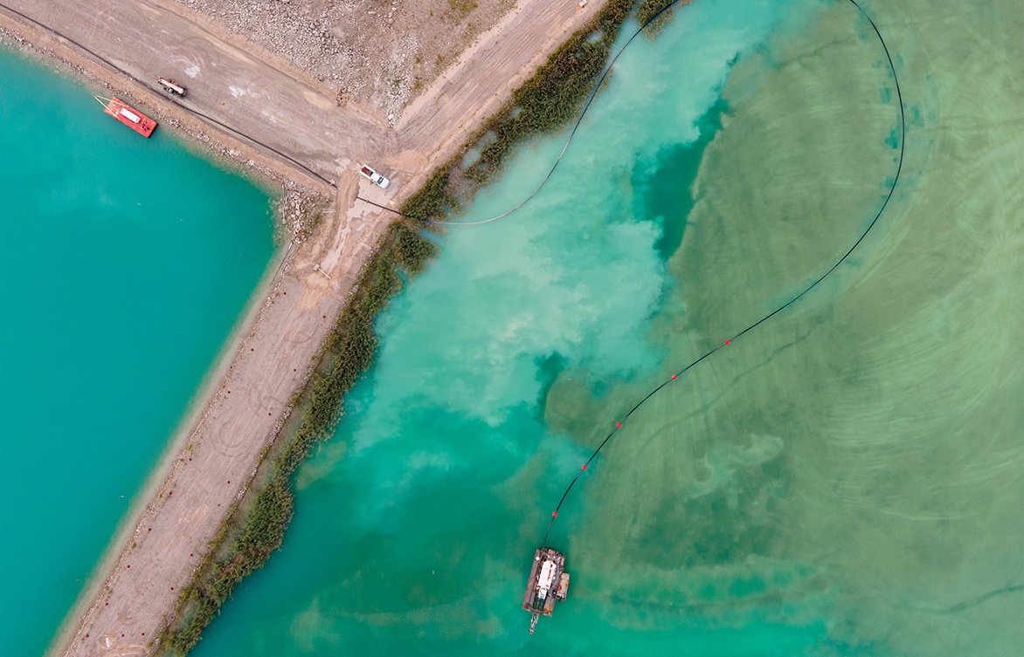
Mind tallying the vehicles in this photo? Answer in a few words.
two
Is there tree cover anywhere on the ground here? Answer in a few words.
No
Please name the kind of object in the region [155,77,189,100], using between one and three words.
work vehicle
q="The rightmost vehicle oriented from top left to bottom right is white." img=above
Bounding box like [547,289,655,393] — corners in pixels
[359,163,391,191]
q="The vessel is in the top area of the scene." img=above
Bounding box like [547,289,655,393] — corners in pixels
[92,94,160,139]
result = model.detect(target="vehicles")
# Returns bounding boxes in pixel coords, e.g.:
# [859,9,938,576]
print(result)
[155,77,189,100]
[359,163,391,191]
